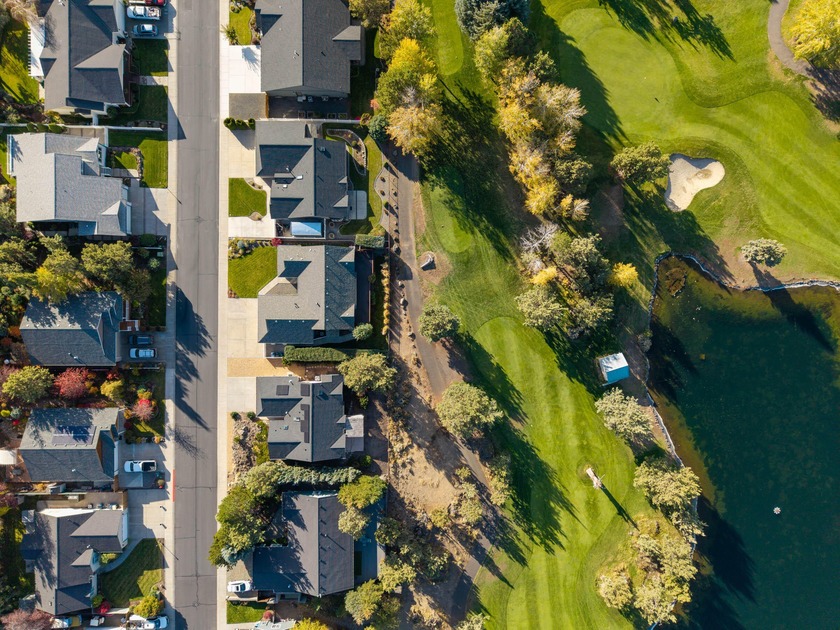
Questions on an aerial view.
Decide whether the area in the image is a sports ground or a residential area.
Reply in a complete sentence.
The picture captures a residential area.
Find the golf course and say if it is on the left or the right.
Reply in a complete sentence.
The golf course appears in the right half of the scene.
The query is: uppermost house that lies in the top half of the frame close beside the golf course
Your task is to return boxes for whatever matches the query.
[259,0,361,96]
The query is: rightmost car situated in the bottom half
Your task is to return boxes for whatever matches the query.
[226,579,253,594]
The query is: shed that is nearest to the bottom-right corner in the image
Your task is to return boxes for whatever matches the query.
[595,353,629,383]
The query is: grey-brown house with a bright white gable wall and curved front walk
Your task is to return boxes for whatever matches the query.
[20,505,130,618]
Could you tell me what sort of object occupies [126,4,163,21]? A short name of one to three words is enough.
vehicle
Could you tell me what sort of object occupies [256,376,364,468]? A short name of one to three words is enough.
house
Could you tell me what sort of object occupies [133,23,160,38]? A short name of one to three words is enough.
car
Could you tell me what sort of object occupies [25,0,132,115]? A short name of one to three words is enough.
house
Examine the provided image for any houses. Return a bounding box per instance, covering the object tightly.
[18,291,128,365]
[25,0,132,115]
[256,376,364,468]
[258,244,356,343]
[2,128,132,238]
[252,491,354,603]
[20,505,130,618]
[259,0,361,96]
[256,120,349,218]
[18,409,126,482]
